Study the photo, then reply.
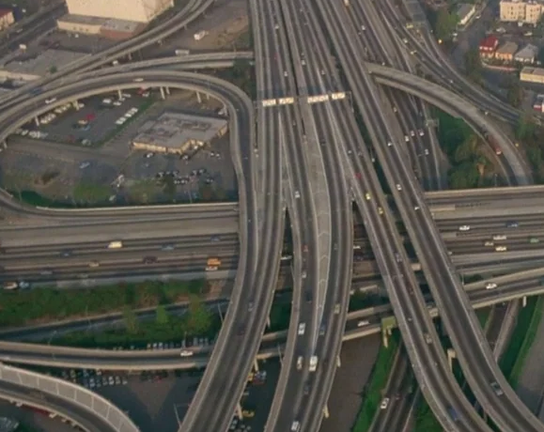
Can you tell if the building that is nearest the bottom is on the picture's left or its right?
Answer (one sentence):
The building that is nearest the bottom appears in the left half of the scene.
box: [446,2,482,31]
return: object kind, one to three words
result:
house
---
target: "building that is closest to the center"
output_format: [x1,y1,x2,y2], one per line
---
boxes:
[134,113,227,151]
